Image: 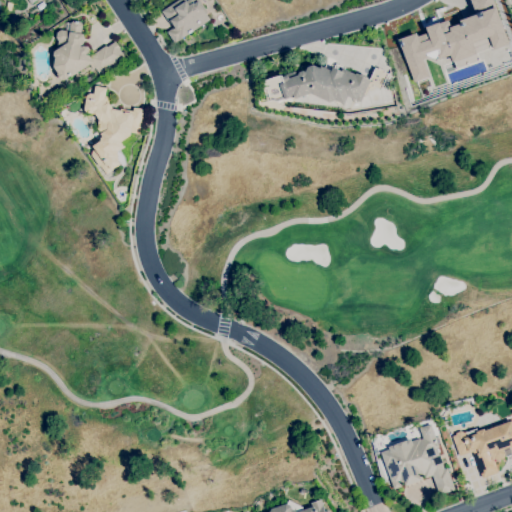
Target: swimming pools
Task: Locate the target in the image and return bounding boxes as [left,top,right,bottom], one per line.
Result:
[448,62,487,84]
[451,411,474,426]
[388,431,408,440]
[34,46,50,76]
[72,117,90,139]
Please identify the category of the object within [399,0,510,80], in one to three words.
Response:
house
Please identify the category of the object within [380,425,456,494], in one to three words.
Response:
house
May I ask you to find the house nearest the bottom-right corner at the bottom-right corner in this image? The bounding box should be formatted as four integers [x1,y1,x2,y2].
[452,420,512,480]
